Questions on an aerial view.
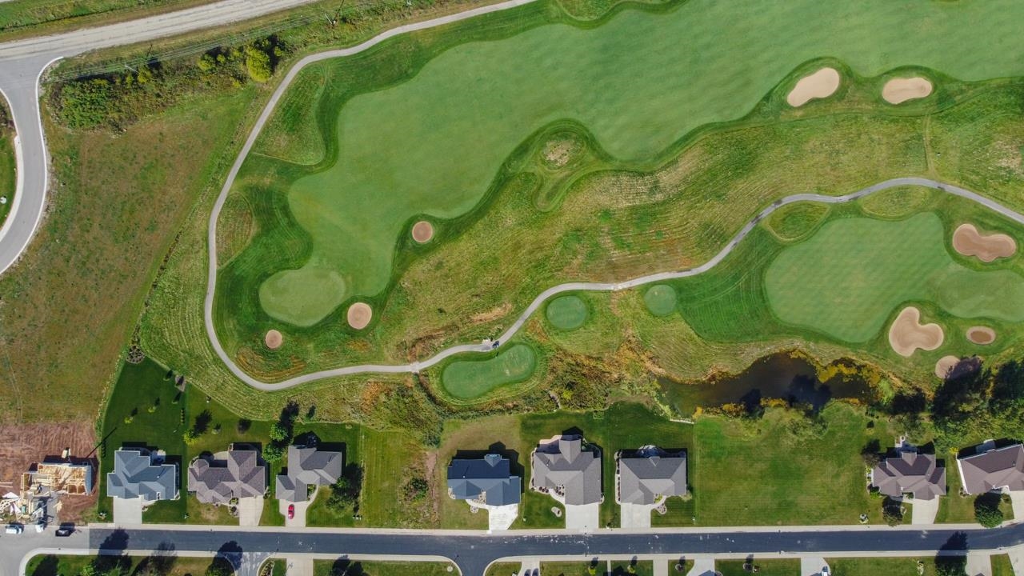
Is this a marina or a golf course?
golf course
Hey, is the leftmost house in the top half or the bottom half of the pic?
bottom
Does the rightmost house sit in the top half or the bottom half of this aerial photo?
bottom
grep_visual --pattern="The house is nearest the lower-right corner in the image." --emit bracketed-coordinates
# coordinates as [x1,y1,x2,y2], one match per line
[954,445,1024,498]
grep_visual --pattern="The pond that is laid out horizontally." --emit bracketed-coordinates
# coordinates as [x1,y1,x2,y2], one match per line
[655,353,879,417]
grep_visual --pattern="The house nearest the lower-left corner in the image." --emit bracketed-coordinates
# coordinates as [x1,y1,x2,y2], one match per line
[17,465,91,498]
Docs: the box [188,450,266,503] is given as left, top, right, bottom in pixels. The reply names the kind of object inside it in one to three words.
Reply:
house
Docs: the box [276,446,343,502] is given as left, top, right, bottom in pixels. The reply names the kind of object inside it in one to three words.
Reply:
house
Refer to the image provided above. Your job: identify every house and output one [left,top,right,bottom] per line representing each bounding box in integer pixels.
[276,446,343,502]
[107,450,178,501]
[954,445,1024,498]
[447,454,522,509]
[534,440,601,507]
[17,465,91,498]
[188,450,266,503]
[870,452,946,500]
[620,456,686,505]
